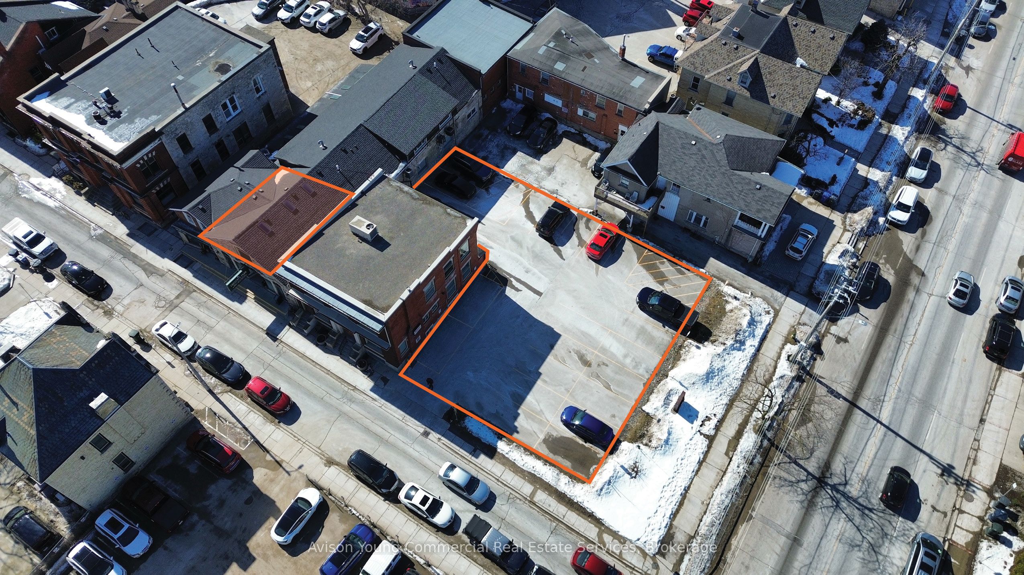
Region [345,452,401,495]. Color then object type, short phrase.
black car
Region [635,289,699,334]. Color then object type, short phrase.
black truck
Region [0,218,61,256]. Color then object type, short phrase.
white truck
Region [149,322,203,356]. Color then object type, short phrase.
white car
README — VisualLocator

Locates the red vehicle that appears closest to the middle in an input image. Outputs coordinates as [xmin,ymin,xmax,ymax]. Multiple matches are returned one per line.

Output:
[587,223,620,260]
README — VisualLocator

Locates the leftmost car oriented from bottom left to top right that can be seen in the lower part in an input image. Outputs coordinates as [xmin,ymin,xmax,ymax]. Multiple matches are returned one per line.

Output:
[265,489,326,547]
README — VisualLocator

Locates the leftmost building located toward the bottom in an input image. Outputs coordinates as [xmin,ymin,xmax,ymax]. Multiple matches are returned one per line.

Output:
[0,299,190,522]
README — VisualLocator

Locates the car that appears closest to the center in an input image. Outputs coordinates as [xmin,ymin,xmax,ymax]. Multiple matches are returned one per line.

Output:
[535,200,571,241]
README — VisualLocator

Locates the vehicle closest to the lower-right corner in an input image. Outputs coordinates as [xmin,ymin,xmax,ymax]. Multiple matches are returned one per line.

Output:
[899,524,947,575]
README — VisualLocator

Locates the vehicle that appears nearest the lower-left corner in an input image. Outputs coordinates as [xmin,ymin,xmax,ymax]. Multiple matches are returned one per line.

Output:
[0,508,66,559]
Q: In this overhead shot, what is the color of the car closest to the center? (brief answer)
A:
black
